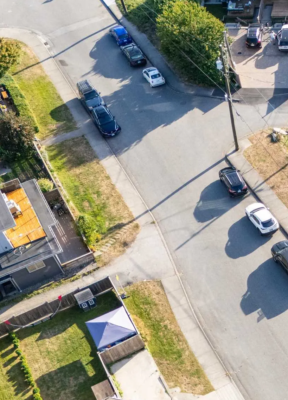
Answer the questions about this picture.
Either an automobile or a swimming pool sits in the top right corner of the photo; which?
automobile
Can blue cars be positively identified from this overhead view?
Yes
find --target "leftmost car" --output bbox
[75,76,105,113]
